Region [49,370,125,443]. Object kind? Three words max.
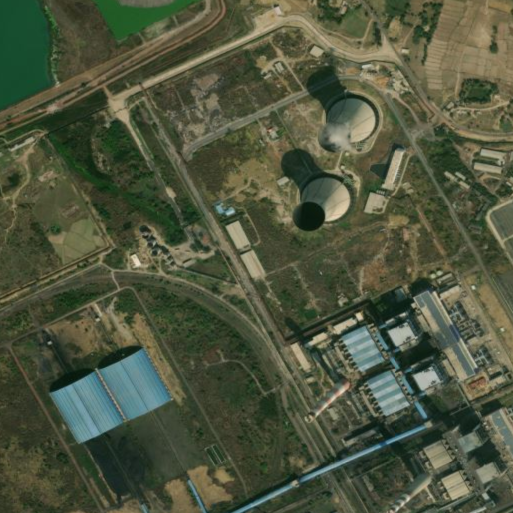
shed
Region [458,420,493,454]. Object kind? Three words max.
building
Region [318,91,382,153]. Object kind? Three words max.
cooling tower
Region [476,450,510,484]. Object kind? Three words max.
building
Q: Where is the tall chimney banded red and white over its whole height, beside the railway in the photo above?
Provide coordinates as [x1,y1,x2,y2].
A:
[307,379,350,425]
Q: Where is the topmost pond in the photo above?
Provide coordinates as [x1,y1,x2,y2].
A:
[94,0,200,40]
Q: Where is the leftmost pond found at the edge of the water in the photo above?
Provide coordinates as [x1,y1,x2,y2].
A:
[0,0,54,109]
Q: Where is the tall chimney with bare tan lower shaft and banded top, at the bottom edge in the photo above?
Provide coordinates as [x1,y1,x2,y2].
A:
[394,473,434,513]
